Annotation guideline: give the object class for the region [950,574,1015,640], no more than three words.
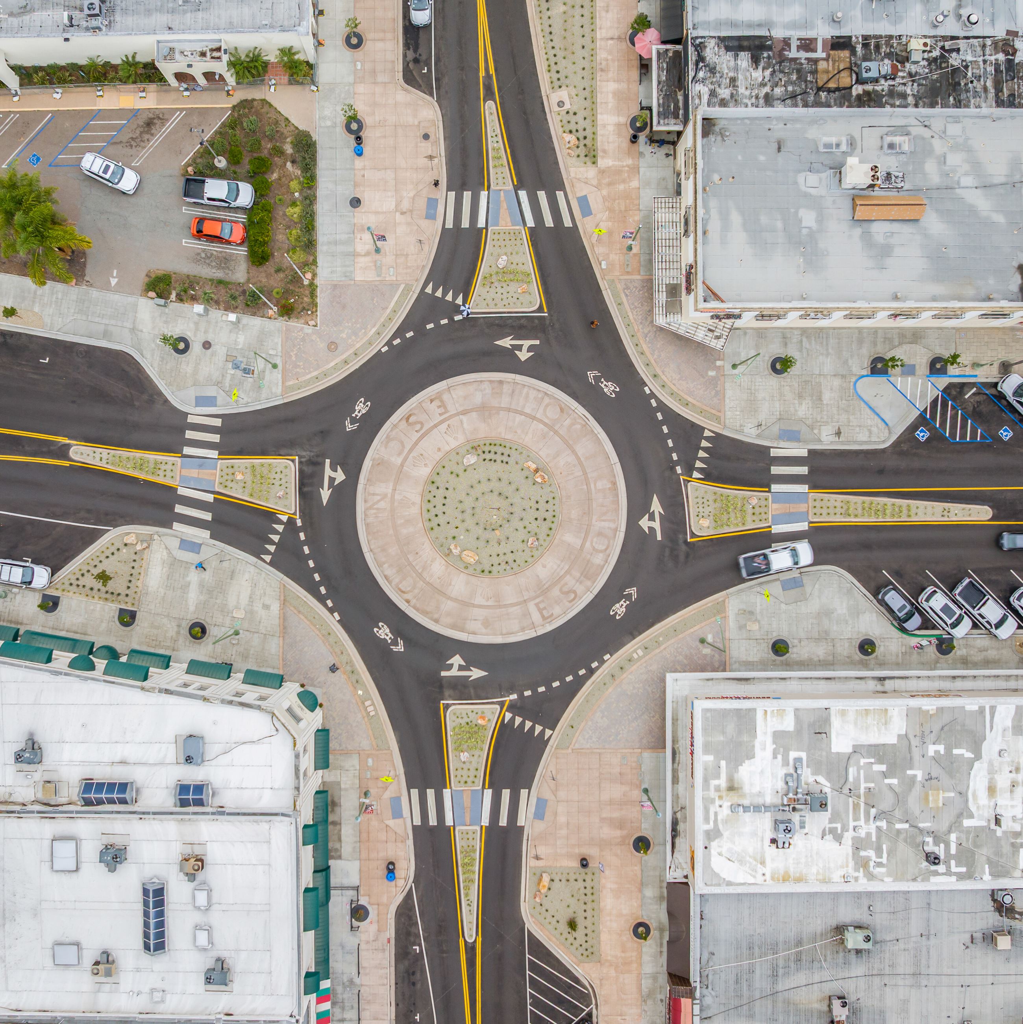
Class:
truck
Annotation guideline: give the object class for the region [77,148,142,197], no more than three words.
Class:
car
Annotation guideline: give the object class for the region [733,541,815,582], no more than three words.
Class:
truck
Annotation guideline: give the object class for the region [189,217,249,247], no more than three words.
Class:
car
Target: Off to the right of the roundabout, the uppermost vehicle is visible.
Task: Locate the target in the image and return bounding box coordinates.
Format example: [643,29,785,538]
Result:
[998,376,1023,424]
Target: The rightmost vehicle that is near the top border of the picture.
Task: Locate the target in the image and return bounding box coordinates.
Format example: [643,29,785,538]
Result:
[406,0,435,30]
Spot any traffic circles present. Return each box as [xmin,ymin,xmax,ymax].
[296,315,682,703]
